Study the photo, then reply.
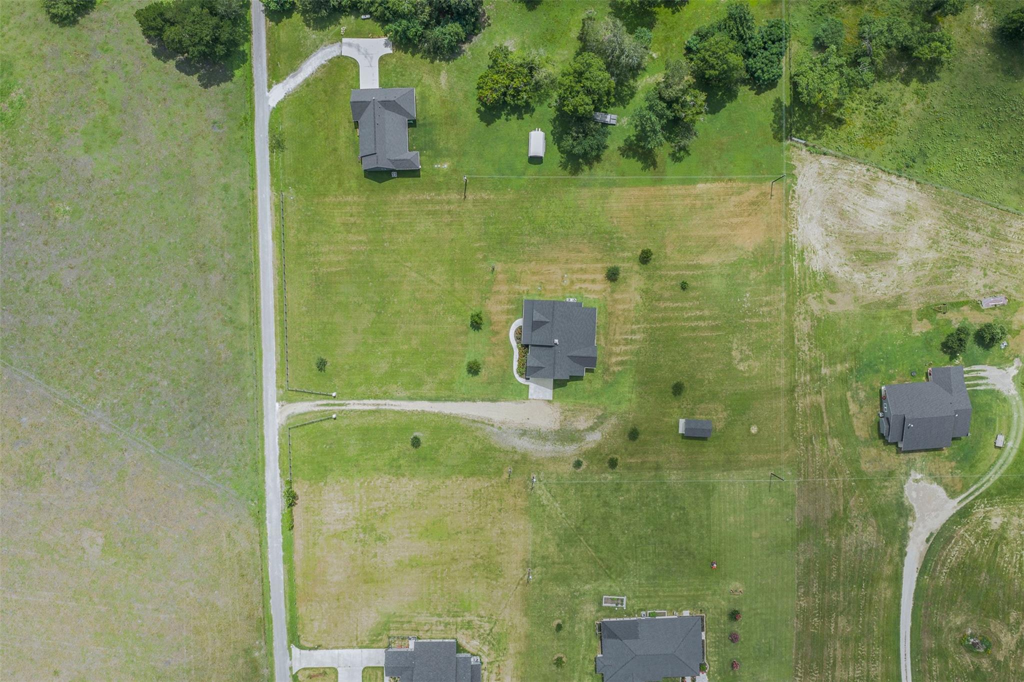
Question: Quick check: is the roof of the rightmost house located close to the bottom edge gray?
Yes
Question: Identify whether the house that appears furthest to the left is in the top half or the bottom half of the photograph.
top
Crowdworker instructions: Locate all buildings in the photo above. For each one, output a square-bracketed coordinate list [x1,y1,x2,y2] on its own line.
[384,639,481,682]
[596,614,701,682]
[879,366,972,451]
[678,418,712,437]
[521,299,598,379]
[350,88,420,170]
[529,130,546,158]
